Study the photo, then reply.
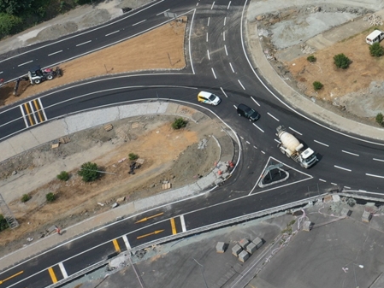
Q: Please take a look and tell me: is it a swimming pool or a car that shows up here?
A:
car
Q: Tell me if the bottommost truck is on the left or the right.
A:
right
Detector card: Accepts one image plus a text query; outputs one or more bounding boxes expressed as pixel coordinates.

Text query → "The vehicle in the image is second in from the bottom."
[236,101,260,121]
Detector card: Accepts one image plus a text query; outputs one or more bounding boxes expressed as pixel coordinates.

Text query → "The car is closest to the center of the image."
[197,90,221,107]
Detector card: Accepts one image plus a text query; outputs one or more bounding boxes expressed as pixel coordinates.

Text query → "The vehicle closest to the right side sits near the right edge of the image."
[364,28,384,45]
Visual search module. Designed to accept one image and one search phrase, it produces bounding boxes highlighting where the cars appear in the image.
[197,90,221,107]
[236,101,260,121]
